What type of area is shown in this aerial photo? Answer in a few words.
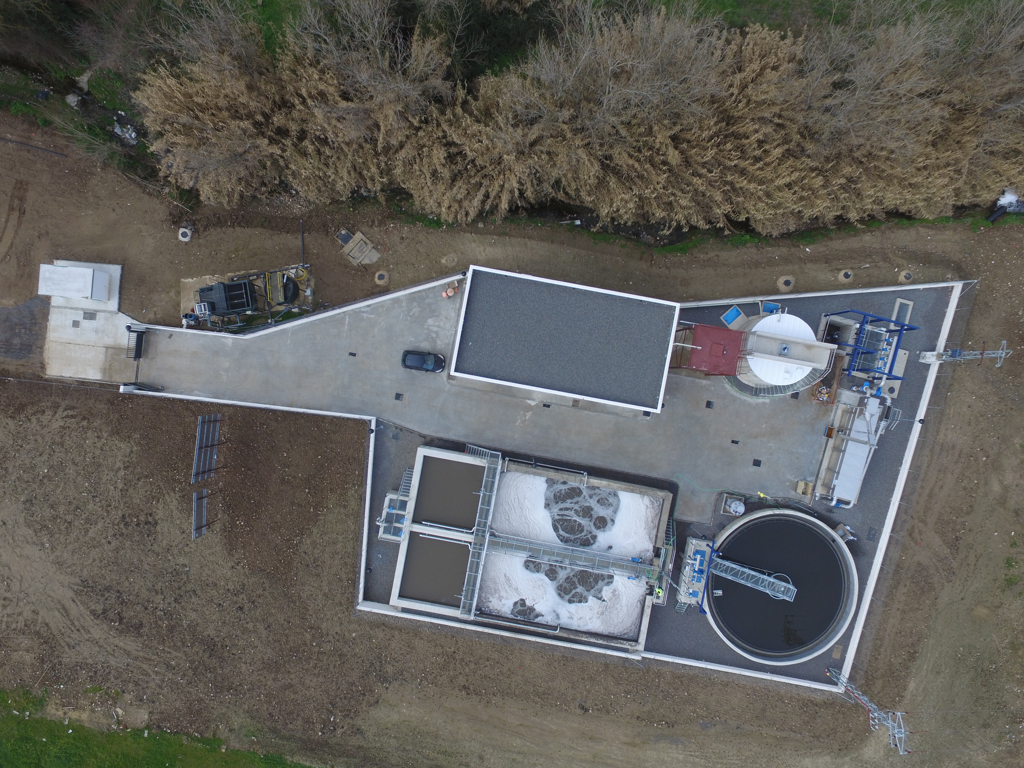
industrial area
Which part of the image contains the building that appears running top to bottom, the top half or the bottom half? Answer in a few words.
bottom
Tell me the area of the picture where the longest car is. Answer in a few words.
center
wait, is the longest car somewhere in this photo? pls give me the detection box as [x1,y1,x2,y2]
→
[400,350,444,372]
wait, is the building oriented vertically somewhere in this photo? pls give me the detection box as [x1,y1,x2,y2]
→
[676,535,717,610]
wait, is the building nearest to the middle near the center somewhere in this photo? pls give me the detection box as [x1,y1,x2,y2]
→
[450,266,680,413]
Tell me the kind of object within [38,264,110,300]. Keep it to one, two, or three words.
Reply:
shed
